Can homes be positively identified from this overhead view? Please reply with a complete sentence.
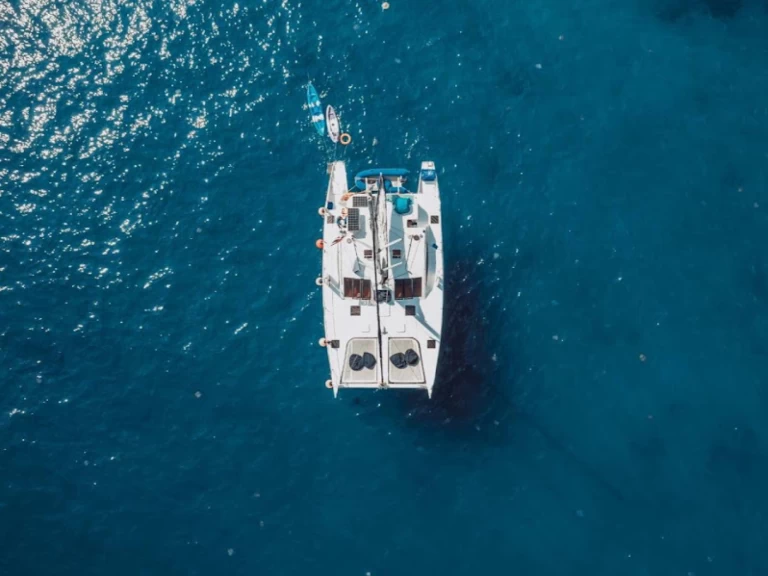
No, no home is visible in the scene.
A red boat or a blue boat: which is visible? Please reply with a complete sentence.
It is a blue boat that can be seen here.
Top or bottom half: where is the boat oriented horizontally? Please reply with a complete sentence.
Seen from above, the boat oriented horizontally lies in the top half of the view.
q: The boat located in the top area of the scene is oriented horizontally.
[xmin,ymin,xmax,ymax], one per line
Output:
[348,168,413,193]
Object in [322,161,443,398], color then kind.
white boat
